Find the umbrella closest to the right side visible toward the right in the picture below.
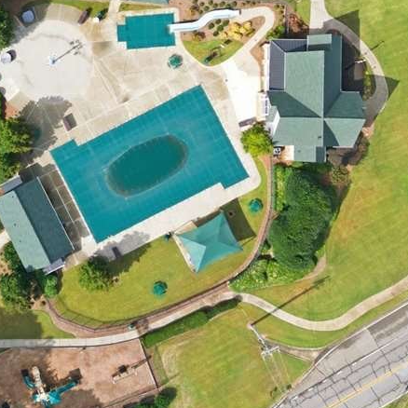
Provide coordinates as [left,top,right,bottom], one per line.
[248,197,262,212]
